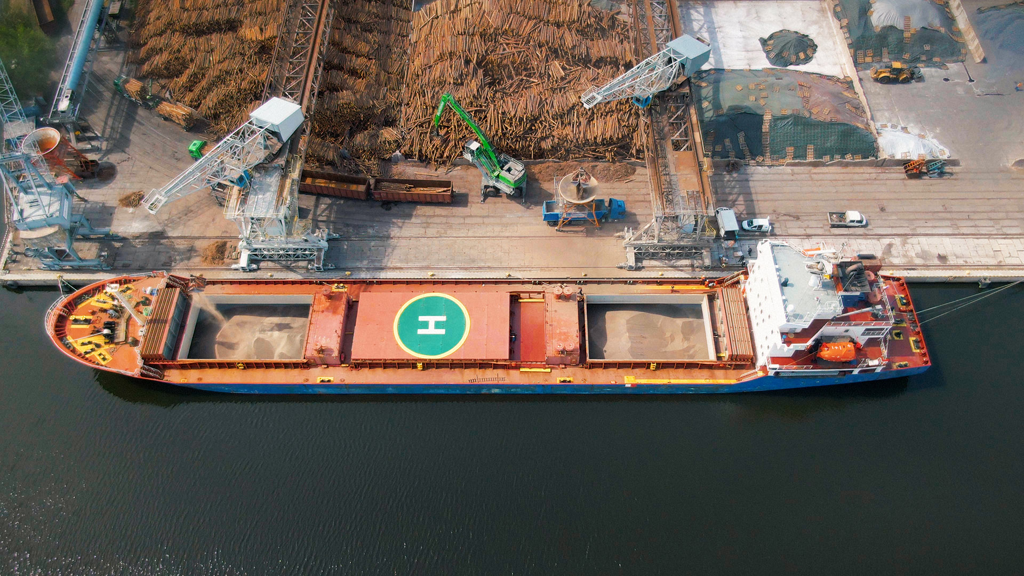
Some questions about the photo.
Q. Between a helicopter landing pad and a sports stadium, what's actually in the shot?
helicopter landing pad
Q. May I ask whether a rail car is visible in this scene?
Yes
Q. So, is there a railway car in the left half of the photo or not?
Yes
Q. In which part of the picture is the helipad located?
center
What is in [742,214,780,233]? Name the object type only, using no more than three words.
vehicle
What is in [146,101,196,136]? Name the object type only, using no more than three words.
trailer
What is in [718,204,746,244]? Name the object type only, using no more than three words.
truck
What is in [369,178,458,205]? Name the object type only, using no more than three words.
rail car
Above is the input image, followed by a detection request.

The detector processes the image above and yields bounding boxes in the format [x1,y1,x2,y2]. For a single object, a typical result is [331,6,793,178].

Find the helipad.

[394,293,470,360]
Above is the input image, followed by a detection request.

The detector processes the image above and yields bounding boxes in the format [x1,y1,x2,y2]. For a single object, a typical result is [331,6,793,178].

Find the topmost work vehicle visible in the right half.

[875,64,927,89]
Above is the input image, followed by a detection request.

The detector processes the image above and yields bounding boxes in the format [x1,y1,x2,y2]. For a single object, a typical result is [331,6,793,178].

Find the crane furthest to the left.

[0,79,125,268]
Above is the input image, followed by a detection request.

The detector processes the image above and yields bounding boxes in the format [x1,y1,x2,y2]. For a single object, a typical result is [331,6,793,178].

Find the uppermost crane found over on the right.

[566,0,725,268]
